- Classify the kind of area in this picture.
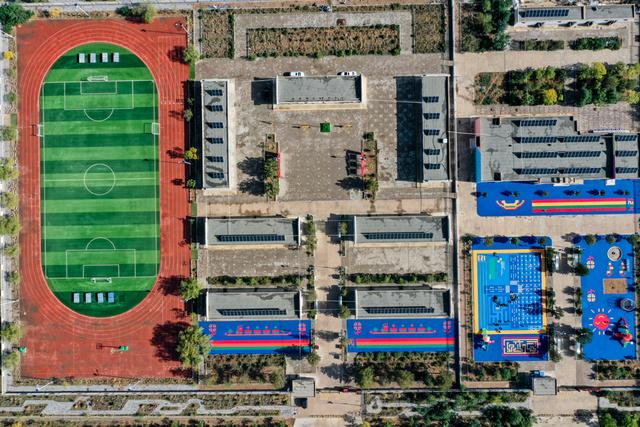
sports ground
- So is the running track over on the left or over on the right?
left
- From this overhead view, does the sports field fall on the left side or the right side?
left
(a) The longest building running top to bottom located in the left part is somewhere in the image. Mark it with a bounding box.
[201,79,232,189]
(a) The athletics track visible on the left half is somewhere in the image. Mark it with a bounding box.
[16,17,192,379]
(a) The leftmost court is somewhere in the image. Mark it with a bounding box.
[472,236,552,361]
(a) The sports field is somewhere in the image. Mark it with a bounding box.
[39,41,160,318]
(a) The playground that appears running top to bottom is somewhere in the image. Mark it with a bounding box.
[581,234,637,361]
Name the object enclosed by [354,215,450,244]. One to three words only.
building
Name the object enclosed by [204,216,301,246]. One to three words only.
building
